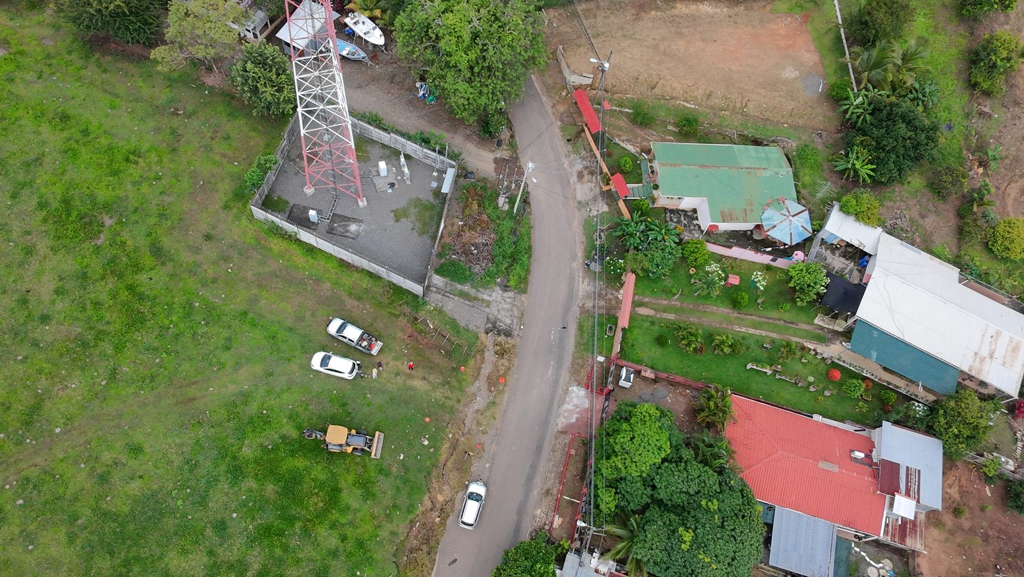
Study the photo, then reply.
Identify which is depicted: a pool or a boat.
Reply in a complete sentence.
It is a boat that can be seen here.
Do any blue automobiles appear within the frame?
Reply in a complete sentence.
No, there is no blue automobile in the image.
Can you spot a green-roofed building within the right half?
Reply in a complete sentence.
Yes, a green-roofed building can be seen within the right half.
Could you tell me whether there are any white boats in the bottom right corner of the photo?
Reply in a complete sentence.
No, I can find no white boat in the bottom right corner of the photo.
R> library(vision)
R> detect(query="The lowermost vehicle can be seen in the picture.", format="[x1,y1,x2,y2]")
[458,482,487,530]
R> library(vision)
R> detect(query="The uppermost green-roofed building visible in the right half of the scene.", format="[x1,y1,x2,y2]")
[651,142,797,232]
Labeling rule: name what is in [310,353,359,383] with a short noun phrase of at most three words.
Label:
car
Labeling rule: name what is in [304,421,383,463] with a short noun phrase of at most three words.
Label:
work vehicle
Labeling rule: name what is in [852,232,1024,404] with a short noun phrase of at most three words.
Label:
house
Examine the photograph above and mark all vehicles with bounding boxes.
[310,353,359,383]
[326,319,385,358]
[458,482,487,530]
[304,421,383,463]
